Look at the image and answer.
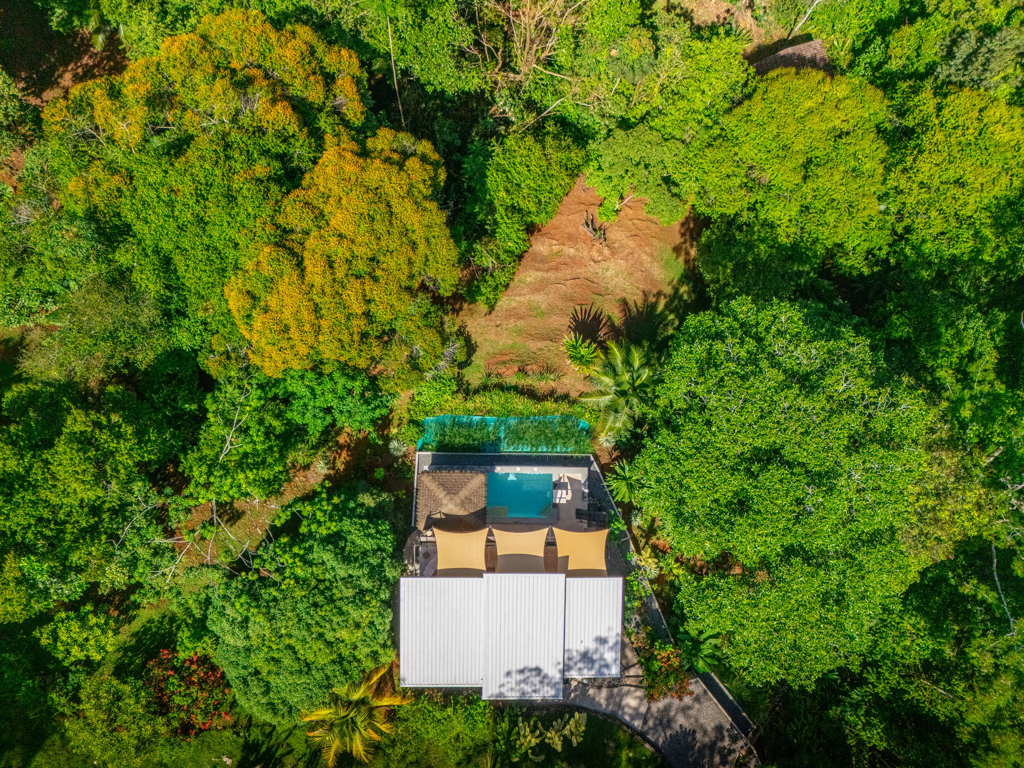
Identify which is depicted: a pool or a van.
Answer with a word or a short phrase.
pool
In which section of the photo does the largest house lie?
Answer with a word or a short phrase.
bottom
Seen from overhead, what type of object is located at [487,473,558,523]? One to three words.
swimming pool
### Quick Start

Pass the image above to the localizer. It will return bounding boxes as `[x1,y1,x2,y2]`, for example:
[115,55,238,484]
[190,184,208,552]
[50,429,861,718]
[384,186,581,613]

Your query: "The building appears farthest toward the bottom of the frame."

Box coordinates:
[399,573,623,700]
